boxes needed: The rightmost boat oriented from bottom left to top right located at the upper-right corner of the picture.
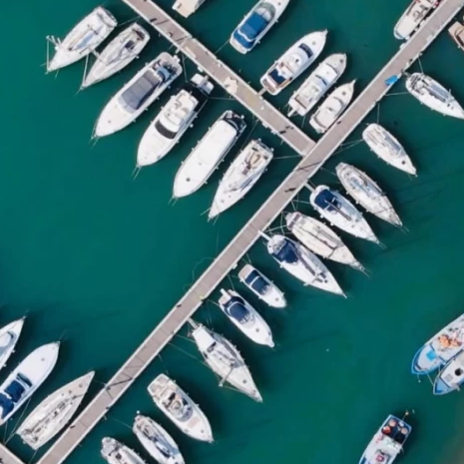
[394,0,439,37]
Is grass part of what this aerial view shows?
No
